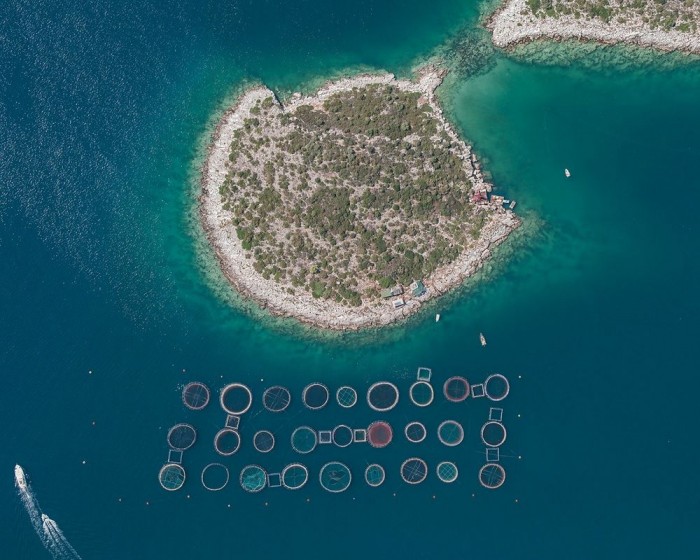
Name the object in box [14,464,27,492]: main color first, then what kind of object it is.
white boat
